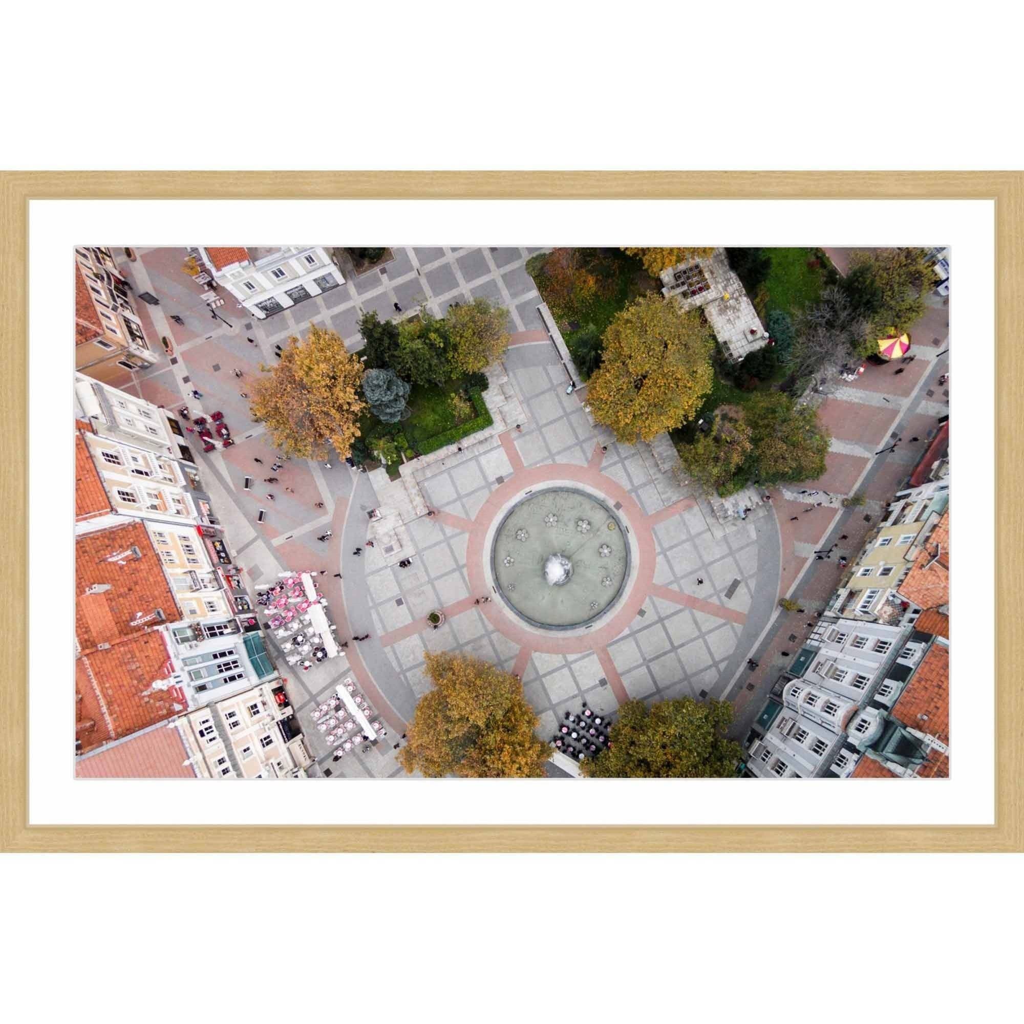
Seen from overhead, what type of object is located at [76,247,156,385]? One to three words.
house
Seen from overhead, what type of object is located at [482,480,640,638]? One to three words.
fountain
